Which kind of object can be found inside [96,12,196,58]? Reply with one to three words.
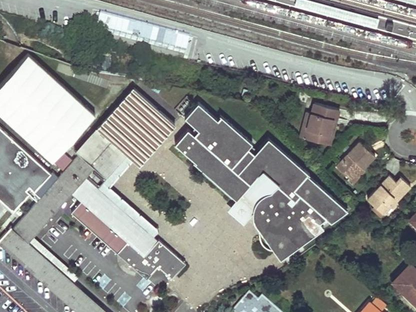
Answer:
shed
